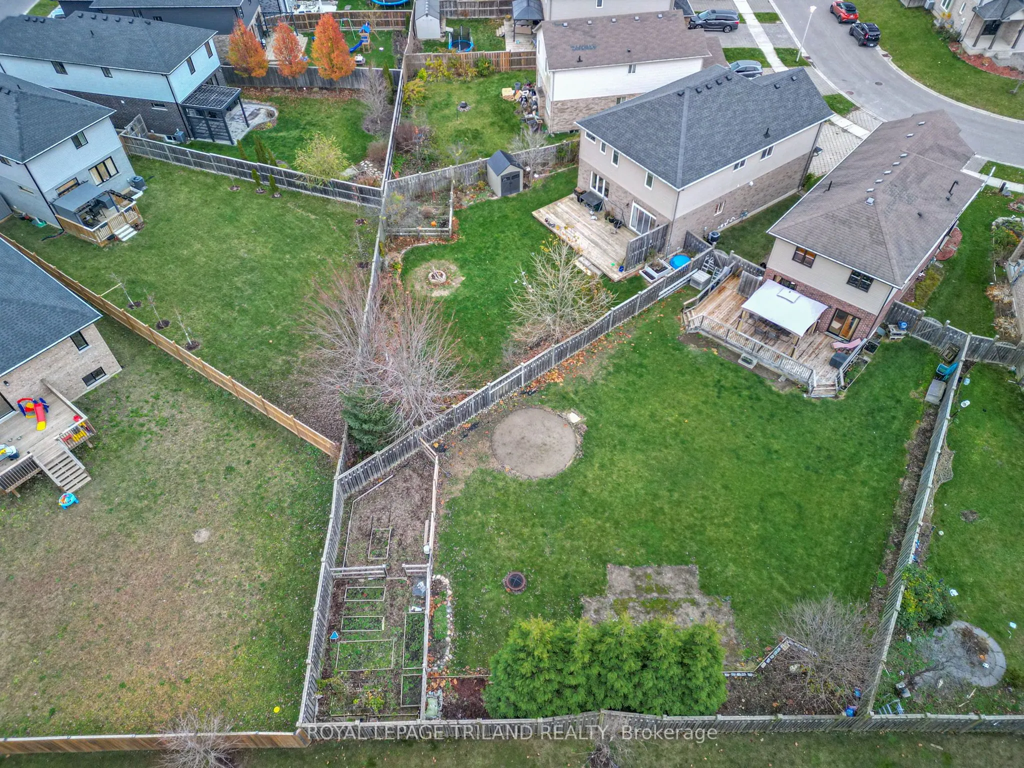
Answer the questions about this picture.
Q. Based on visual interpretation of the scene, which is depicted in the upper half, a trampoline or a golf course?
trampoline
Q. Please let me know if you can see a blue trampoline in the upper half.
Yes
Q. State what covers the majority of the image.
grass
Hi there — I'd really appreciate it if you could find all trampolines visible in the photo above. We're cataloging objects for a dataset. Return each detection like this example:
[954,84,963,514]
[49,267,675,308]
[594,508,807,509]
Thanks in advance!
[370,0,410,10]
[448,28,472,56]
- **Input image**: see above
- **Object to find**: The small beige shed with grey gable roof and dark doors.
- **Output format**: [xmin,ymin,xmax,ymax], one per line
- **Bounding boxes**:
[480,149,522,196]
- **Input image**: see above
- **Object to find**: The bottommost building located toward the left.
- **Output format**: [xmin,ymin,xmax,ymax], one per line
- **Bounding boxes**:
[0,236,121,417]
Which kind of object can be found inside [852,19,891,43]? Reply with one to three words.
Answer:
car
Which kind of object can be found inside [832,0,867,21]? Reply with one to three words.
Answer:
car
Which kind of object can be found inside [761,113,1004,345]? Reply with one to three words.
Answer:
house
